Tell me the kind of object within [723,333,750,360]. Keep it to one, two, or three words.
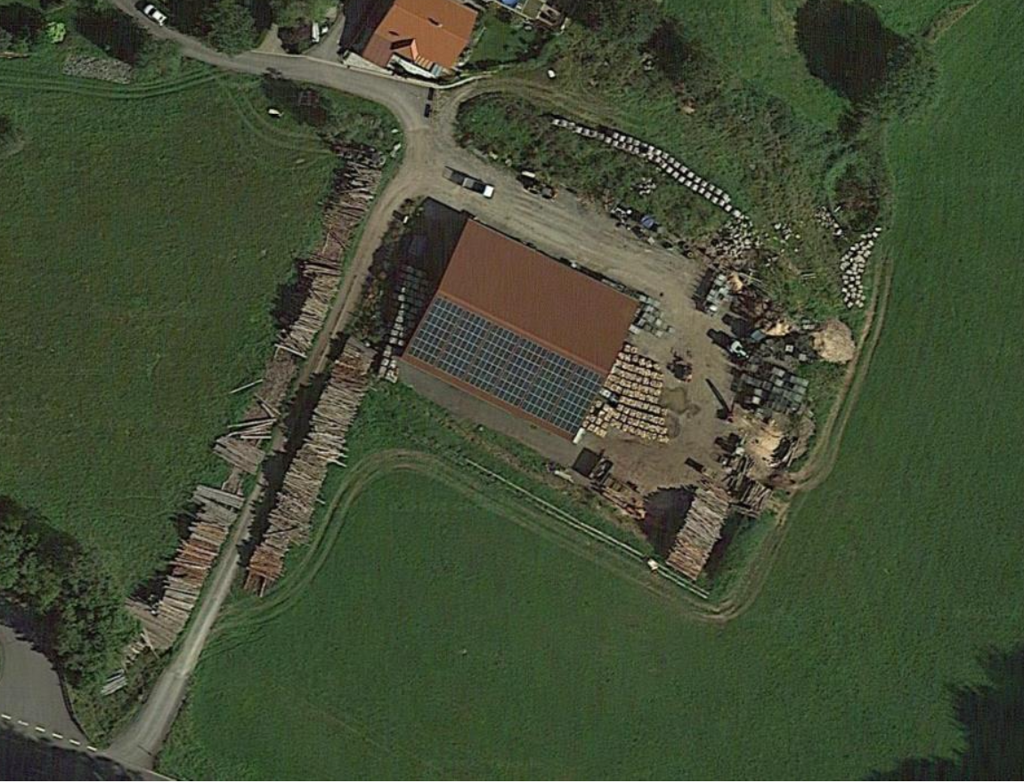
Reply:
work vehicle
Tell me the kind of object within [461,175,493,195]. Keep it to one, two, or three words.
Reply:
vehicle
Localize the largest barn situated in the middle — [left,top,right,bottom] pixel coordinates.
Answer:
[402,218,639,440]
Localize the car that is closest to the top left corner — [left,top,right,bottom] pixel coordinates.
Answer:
[142,4,168,25]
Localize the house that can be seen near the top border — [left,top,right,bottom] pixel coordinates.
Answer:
[369,0,478,68]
